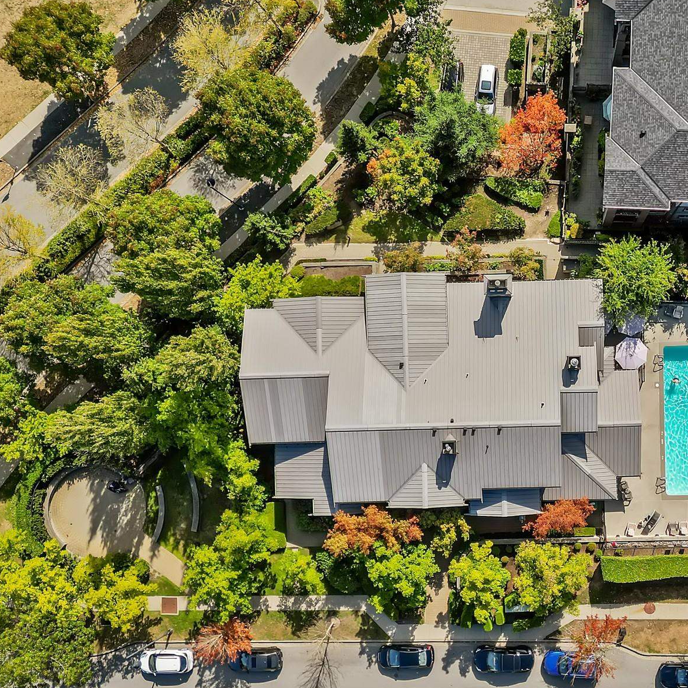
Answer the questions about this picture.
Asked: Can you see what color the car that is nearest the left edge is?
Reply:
white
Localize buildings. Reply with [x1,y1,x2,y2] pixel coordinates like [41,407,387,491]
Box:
[240,271,642,517]
[600,0,688,228]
